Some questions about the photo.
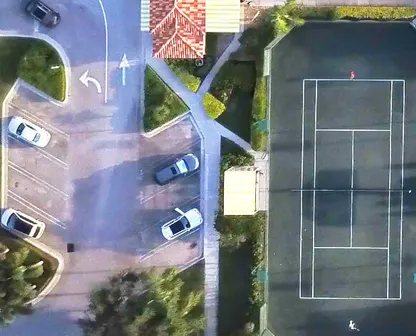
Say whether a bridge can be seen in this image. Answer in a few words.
No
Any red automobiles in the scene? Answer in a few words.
No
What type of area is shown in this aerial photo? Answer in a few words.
sports ground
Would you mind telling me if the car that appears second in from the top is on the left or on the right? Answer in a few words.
left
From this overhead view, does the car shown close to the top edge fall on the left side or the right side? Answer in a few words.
left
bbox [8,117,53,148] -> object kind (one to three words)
car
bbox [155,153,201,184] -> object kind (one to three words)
car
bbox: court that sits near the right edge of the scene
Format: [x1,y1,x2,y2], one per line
[267,25,416,336]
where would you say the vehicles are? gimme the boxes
[21,0,64,28]
[8,117,53,148]
[0,207,47,241]
[159,208,204,241]
[155,153,201,184]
